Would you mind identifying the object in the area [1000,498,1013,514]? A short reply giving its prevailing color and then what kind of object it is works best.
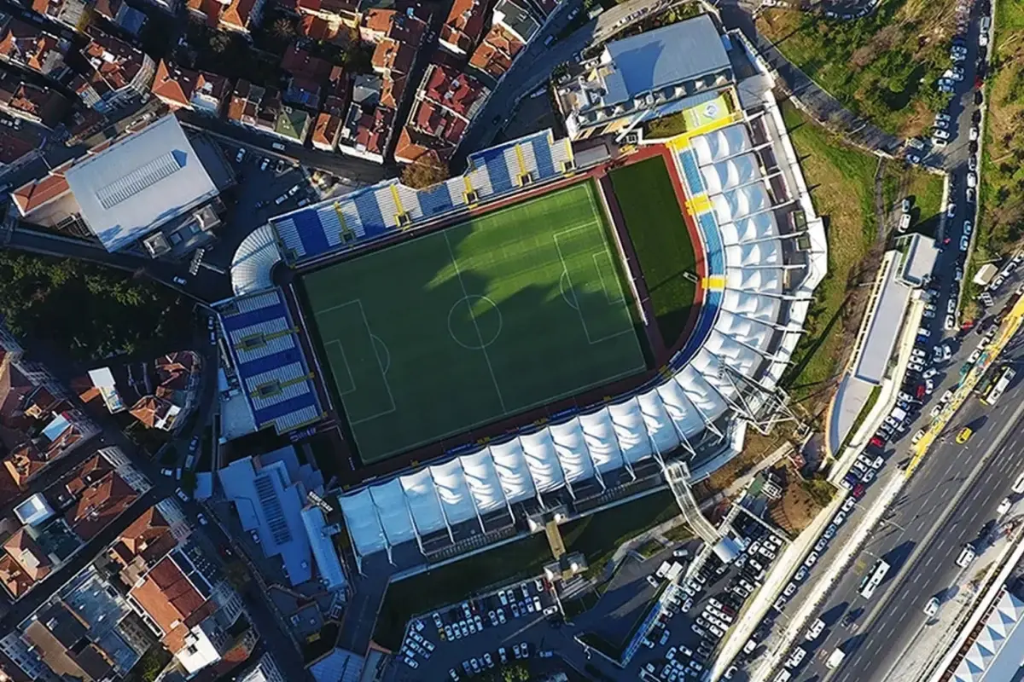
white vehicle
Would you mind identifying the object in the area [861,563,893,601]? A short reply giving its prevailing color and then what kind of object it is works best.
white bus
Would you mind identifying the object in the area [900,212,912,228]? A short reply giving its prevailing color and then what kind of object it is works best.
white vehicle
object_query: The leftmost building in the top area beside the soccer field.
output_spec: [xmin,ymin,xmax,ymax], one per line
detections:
[65,113,238,264]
